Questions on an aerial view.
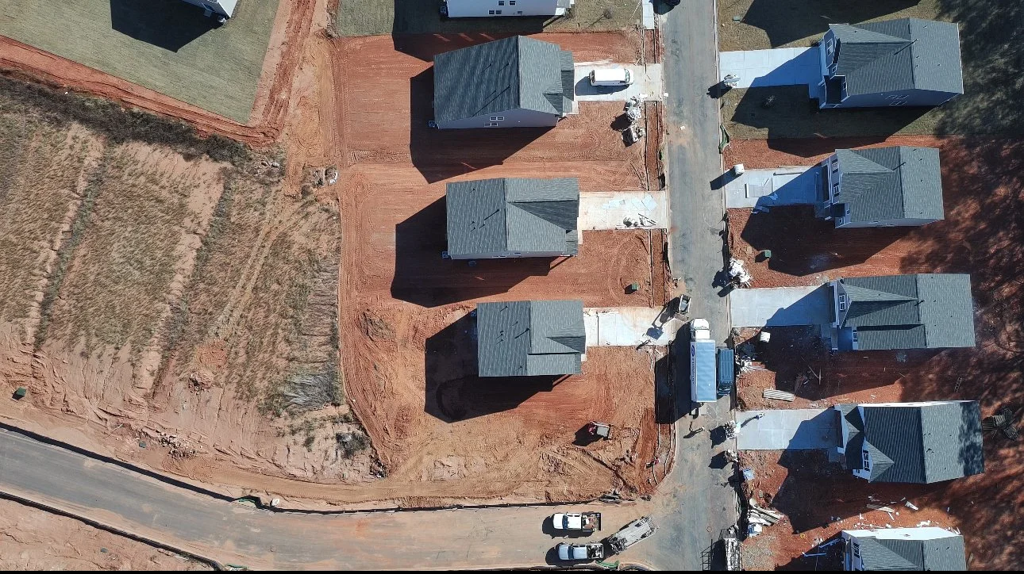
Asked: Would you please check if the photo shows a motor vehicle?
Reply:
Yes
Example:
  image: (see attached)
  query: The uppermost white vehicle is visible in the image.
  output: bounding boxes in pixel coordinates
[590,66,633,86]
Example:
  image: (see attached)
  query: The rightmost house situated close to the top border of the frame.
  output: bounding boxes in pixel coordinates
[814,16,964,111]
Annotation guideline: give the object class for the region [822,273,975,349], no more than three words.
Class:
house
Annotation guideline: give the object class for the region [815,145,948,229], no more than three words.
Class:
house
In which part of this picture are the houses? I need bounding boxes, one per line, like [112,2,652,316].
[176,0,236,17]
[433,35,574,129]
[833,526,967,574]
[814,16,964,111]
[446,178,580,258]
[815,145,948,229]
[476,300,586,378]
[442,0,573,16]
[822,273,975,349]
[830,398,985,485]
